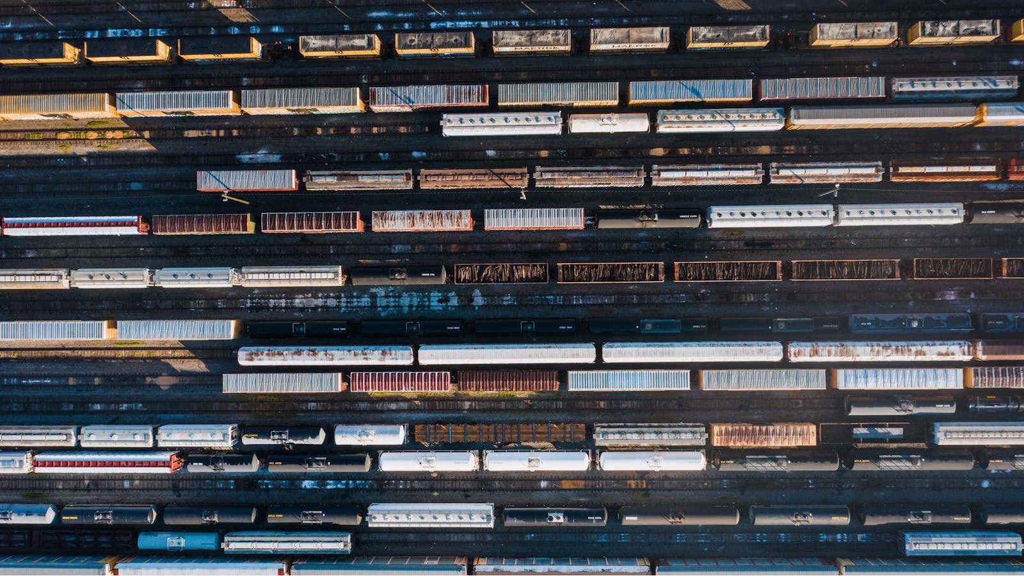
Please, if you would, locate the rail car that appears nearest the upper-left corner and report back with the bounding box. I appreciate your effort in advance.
[0,92,121,120]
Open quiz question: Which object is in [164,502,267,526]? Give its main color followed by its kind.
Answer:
black rail car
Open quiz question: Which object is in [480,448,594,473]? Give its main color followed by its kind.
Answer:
white rail car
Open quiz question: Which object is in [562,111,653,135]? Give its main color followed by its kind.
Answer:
white rail car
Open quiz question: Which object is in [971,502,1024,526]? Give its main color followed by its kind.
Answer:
black rail car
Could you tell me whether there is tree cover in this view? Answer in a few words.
No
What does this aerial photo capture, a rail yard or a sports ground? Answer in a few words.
rail yard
